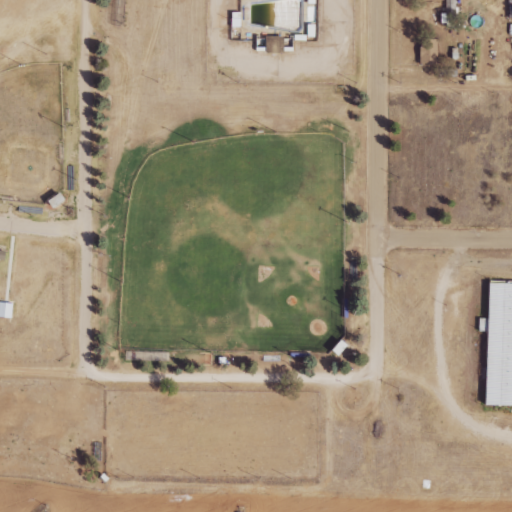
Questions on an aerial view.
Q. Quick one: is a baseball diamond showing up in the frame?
Yes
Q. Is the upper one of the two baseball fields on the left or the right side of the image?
left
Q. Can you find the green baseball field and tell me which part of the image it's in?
center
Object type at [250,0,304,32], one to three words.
swimming pool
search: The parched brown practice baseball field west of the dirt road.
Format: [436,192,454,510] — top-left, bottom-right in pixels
[0,64,61,202]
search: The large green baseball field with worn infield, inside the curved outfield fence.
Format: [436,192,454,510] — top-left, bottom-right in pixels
[120,132,345,350]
